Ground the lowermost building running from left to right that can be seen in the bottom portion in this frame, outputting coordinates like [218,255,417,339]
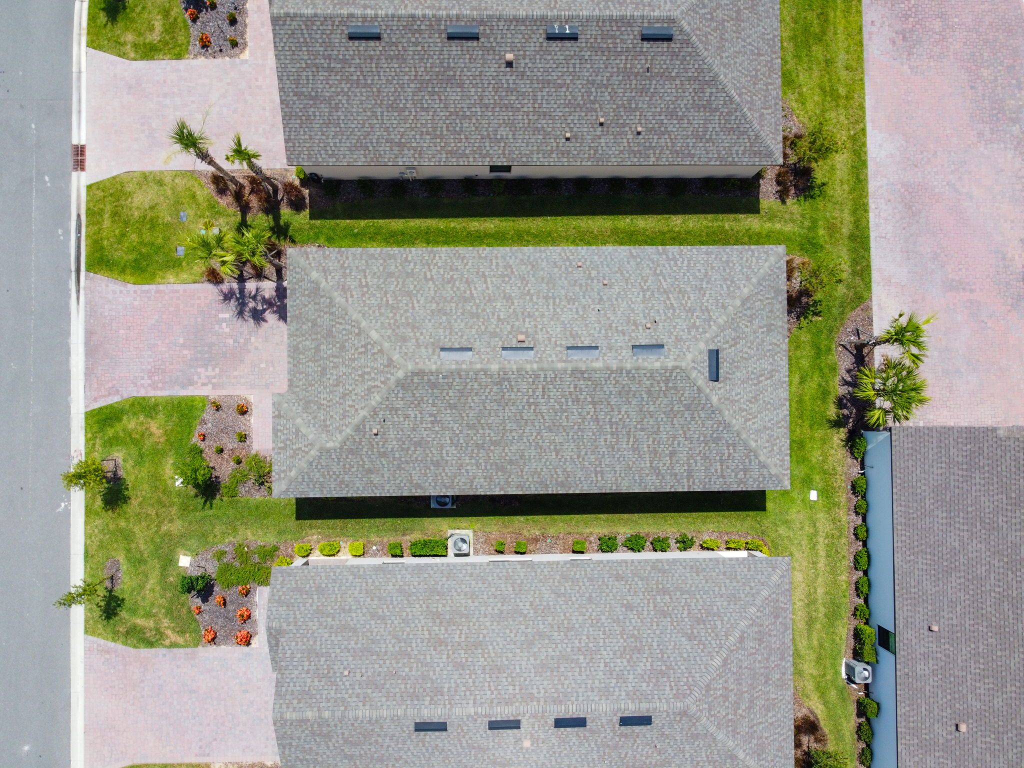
[265,550,798,768]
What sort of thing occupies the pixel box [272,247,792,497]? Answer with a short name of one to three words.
house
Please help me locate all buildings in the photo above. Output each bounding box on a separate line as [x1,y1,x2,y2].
[268,0,784,181]
[265,550,798,768]
[272,247,792,497]
[862,424,1024,768]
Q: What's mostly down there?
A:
buildings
